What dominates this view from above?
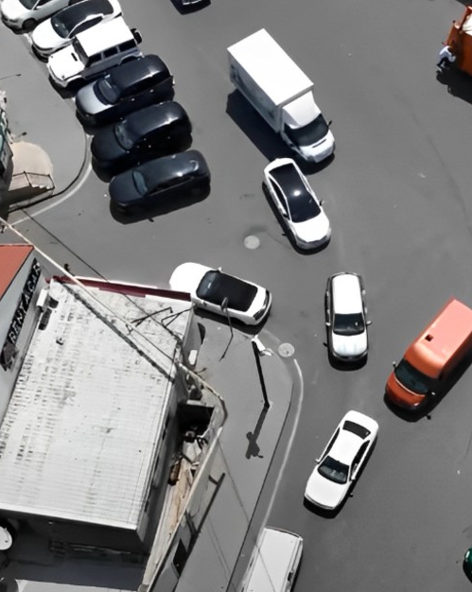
paved ground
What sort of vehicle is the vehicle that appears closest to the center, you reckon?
automobile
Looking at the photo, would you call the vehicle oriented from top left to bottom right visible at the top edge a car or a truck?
truck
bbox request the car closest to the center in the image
[168,263,270,327]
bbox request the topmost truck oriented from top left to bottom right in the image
[227,28,335,163]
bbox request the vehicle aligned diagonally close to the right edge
[387,303,472,417]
